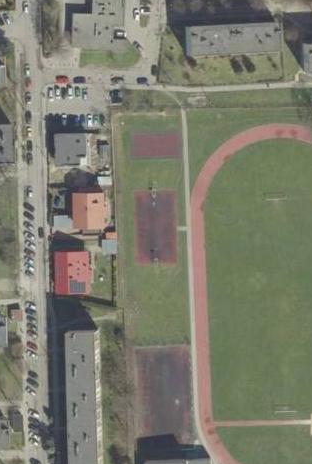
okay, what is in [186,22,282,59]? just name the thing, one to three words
building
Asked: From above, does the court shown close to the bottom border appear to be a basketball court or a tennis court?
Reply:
basketball court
